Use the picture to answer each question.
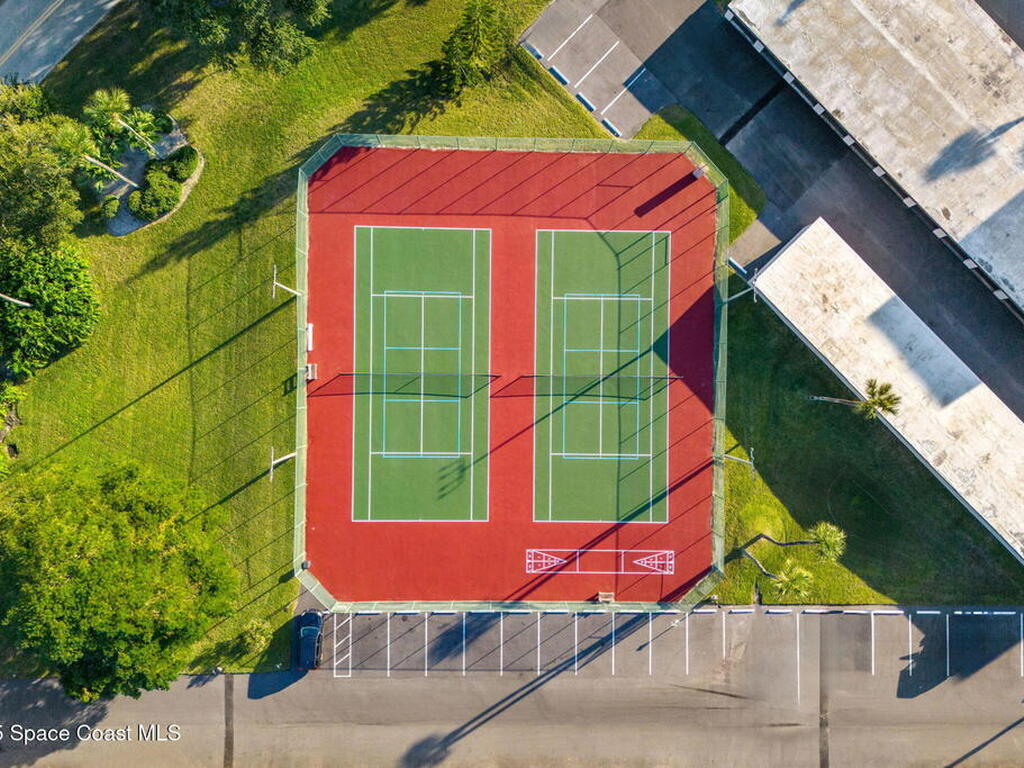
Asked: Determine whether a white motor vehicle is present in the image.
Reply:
No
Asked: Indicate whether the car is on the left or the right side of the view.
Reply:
left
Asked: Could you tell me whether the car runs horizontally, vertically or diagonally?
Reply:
vertically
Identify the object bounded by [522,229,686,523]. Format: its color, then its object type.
green tennis court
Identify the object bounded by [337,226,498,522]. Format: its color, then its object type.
green tennis court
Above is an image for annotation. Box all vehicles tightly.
[294,608,324,671]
